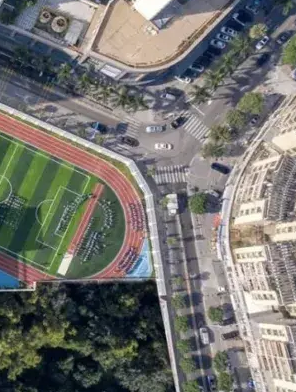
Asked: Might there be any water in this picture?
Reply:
No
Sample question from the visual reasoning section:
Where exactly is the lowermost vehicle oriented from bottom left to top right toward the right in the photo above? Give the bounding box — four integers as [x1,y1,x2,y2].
[170,115,188,131]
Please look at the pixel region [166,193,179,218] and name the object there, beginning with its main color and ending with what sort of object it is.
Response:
white vehicle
